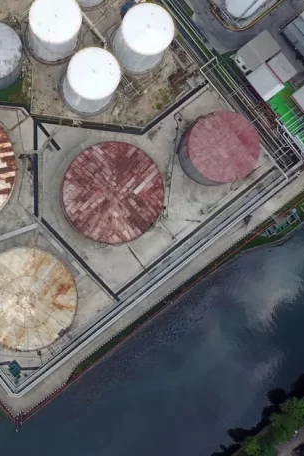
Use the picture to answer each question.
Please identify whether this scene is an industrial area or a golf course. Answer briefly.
industrial area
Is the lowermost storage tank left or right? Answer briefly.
left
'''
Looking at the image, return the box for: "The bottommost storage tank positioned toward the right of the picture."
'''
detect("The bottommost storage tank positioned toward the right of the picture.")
[175,111,262,190]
